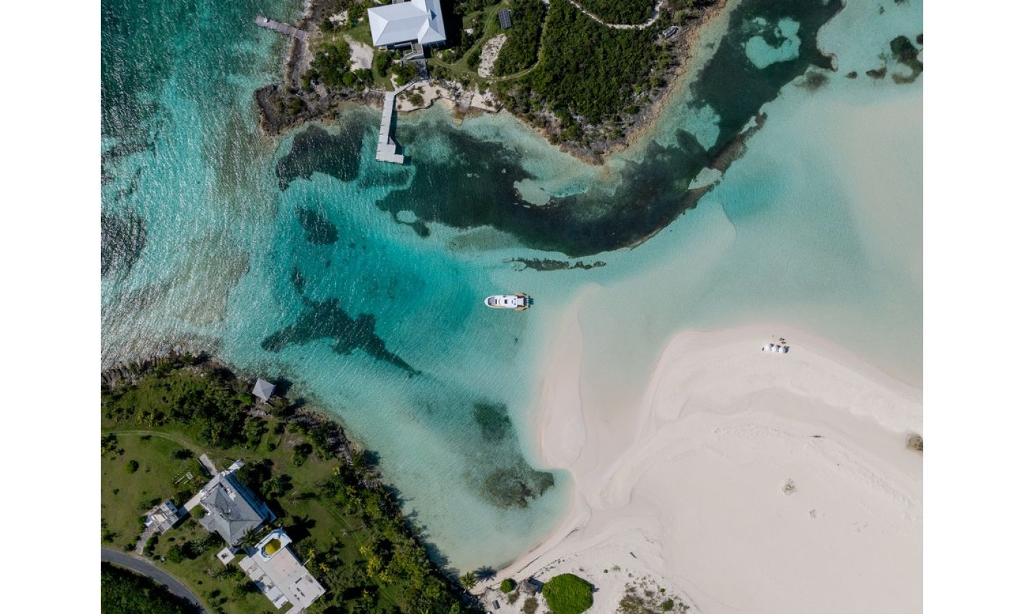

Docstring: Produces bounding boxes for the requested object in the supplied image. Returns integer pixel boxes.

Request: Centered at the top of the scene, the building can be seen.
[368,0,447,62]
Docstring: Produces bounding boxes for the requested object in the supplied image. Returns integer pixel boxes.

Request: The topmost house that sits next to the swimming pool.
[199,466,277,545]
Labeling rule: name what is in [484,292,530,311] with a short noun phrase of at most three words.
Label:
boat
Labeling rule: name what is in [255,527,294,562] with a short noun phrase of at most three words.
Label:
swimming pool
